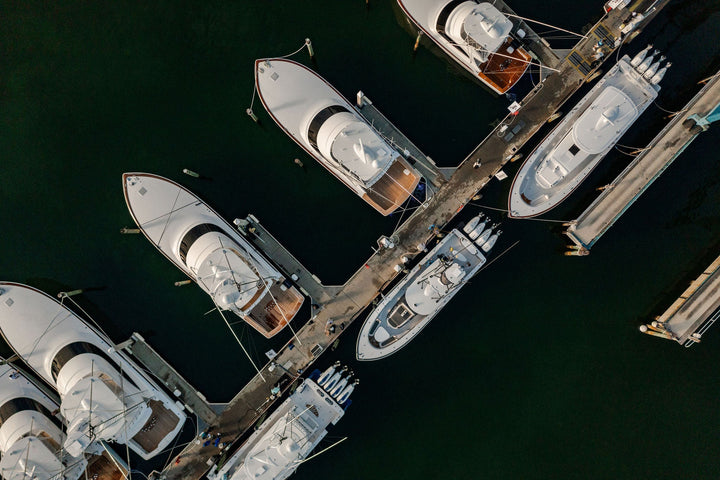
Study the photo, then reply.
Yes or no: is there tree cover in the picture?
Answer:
No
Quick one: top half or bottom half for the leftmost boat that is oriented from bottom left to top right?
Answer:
bottom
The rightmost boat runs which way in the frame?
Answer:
diagonally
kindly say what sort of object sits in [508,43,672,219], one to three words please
boat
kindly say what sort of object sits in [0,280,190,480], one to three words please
boat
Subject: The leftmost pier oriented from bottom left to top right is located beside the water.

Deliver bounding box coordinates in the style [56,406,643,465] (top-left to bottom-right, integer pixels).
[155,0,643,480]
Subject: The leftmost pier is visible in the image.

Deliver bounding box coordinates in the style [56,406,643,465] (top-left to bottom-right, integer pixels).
[124,330,229,440]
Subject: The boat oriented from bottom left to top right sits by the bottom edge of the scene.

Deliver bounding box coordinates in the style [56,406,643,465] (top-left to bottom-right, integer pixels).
[207,363,356,480]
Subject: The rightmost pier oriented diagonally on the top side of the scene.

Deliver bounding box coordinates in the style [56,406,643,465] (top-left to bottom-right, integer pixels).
[567,64,720,252]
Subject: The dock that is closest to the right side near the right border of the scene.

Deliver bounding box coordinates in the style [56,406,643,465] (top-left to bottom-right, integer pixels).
[655,249,720,346]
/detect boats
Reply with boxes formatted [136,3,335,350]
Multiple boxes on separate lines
[122,171,305,380]
[255,58,424,217]
[207,363,356,480]
[387,0,587,98]
[356,213,519,361]
[508,43,672,219]
[0,358,127,480]
[0,280,190,480]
